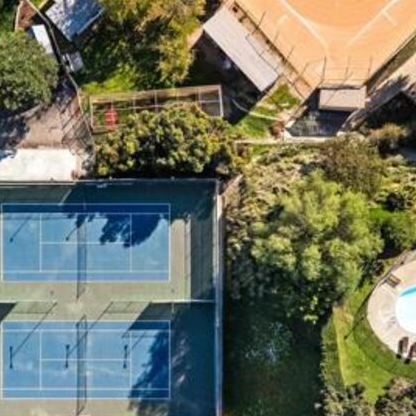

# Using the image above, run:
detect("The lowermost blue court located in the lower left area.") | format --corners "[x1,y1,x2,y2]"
[0,301,220,416]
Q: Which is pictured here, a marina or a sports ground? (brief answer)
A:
sports ground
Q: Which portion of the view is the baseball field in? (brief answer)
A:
top right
